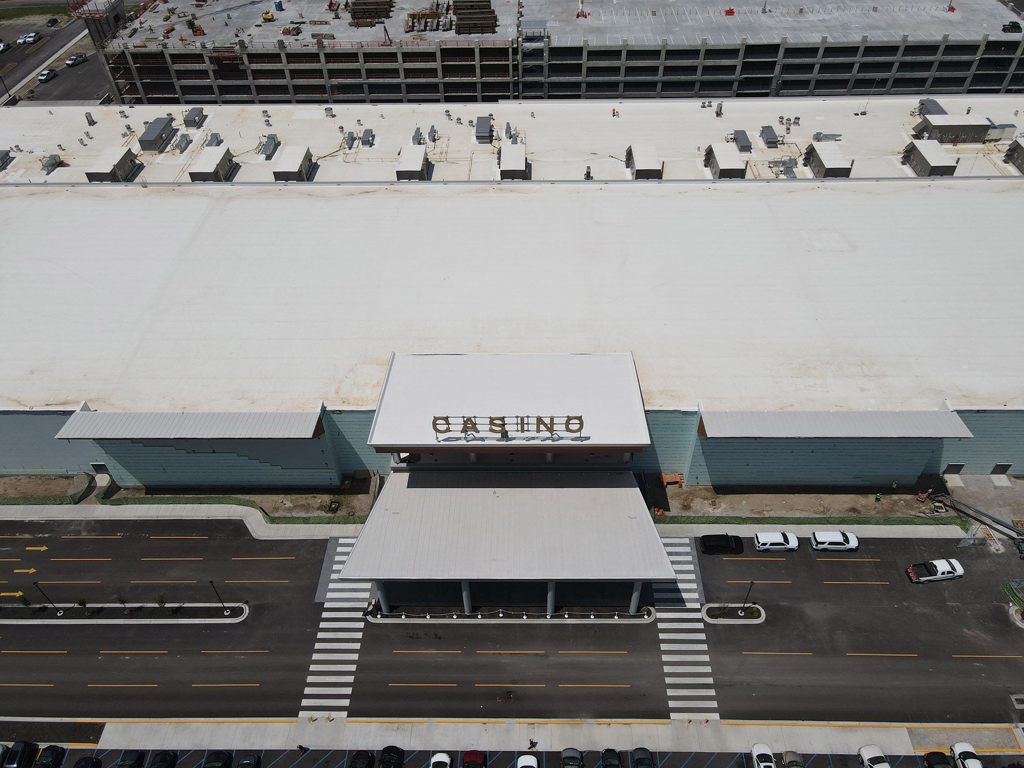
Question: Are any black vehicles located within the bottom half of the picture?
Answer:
Yes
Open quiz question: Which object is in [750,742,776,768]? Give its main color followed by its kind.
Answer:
white car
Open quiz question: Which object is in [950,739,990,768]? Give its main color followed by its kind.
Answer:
white car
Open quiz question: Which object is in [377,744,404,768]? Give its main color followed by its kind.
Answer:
black car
